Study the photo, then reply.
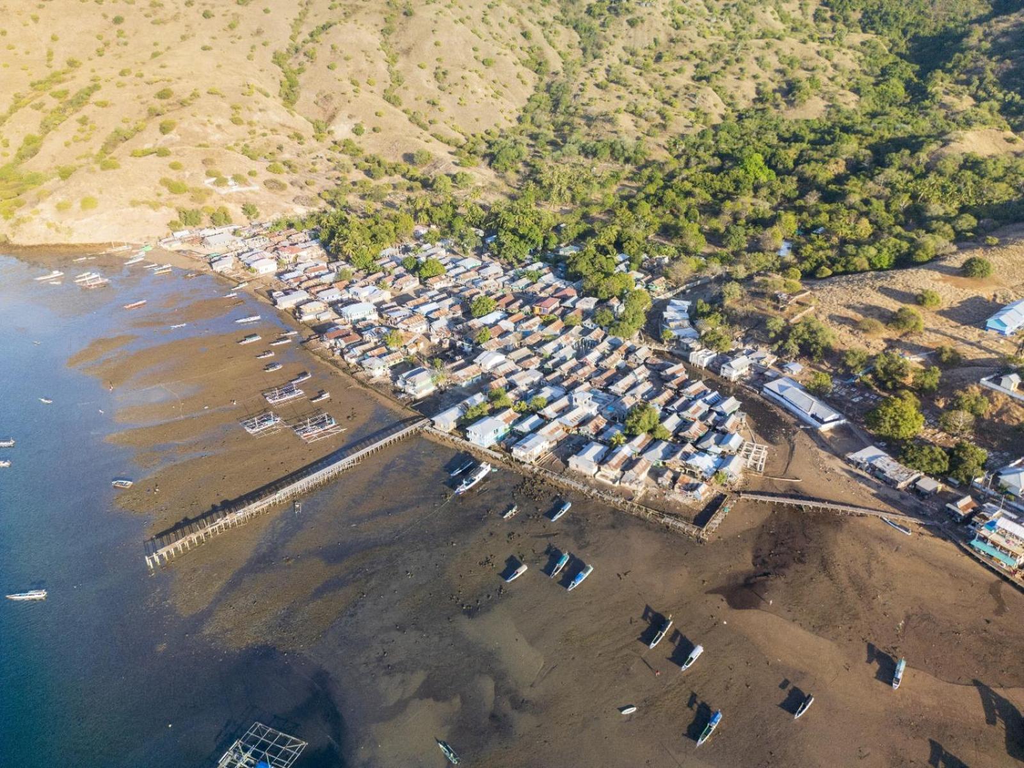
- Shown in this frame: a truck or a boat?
boat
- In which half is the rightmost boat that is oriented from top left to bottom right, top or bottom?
bottom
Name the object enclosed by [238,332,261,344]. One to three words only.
boat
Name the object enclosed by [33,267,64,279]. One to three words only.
boat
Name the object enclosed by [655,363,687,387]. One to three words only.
house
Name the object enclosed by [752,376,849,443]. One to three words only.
building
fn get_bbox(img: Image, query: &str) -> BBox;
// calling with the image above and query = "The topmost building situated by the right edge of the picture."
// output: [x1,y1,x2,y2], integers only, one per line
[978,290,1024,340]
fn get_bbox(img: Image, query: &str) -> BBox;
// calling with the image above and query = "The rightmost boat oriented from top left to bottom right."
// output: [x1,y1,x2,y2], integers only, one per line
[883,512,912,534]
